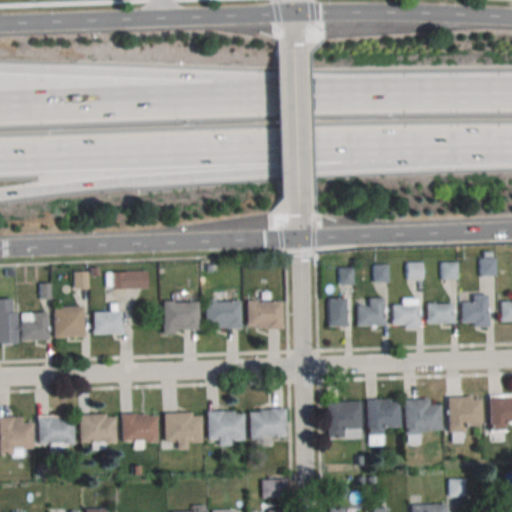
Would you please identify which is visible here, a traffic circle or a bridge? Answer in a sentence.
Of the two, only a bridge appears.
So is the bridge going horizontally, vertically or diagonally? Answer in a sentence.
I'd say the bridge is aligned vertically in the picture.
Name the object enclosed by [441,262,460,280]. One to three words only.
building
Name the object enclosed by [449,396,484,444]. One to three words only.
house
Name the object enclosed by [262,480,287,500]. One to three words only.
building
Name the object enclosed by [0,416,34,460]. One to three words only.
house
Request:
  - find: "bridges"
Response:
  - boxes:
[268,20,326,232]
